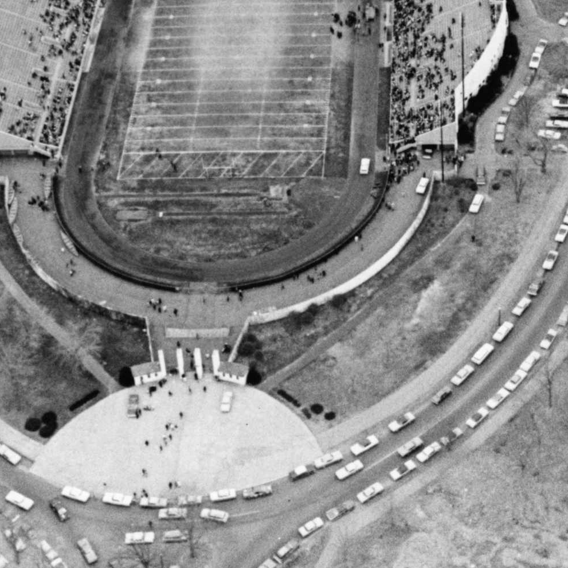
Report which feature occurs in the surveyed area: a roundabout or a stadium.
stadium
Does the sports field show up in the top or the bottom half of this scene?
top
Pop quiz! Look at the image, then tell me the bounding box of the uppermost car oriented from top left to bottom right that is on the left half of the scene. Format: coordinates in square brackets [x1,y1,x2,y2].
[0,446,21,465]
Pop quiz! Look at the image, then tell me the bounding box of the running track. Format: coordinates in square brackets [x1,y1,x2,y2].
[64,0,385,286]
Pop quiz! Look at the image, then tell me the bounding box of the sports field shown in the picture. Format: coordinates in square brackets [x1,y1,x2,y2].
[117,0,339,180]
